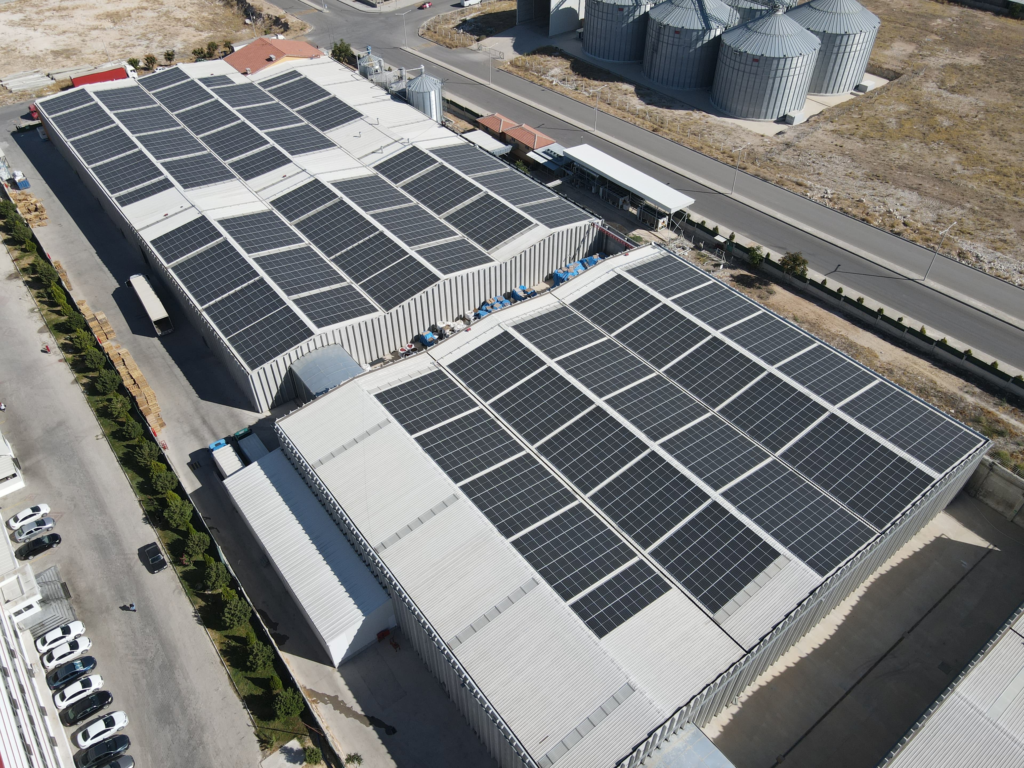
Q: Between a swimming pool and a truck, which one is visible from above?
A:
truck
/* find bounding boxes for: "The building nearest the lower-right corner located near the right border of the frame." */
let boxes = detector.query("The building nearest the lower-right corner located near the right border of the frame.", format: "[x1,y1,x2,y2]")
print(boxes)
[872,596,1024,768]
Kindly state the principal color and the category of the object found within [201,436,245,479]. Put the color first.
white truck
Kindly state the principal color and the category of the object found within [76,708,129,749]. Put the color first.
white car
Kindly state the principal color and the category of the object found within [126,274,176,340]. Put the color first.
white truck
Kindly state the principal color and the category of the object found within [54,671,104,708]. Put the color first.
white car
